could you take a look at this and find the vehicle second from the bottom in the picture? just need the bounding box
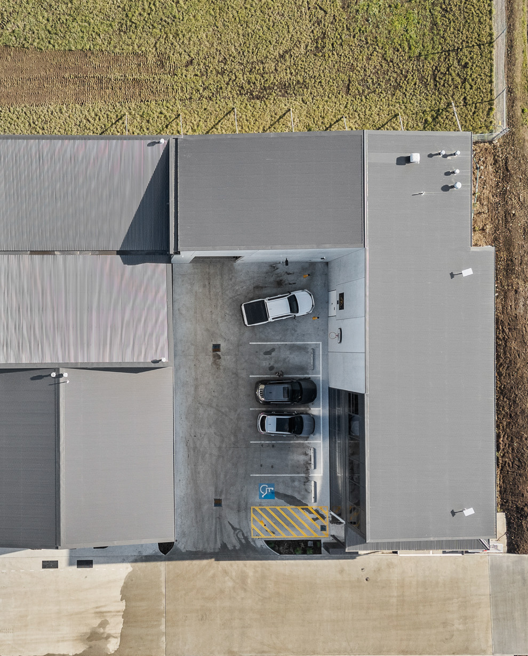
[254,377,318,408]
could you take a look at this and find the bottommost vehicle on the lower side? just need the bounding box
[256,410,315,440]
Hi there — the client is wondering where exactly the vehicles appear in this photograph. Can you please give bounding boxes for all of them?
[254,377,318,408]
[242,291,317,326]
[256,410,315,440]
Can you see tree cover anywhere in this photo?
No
